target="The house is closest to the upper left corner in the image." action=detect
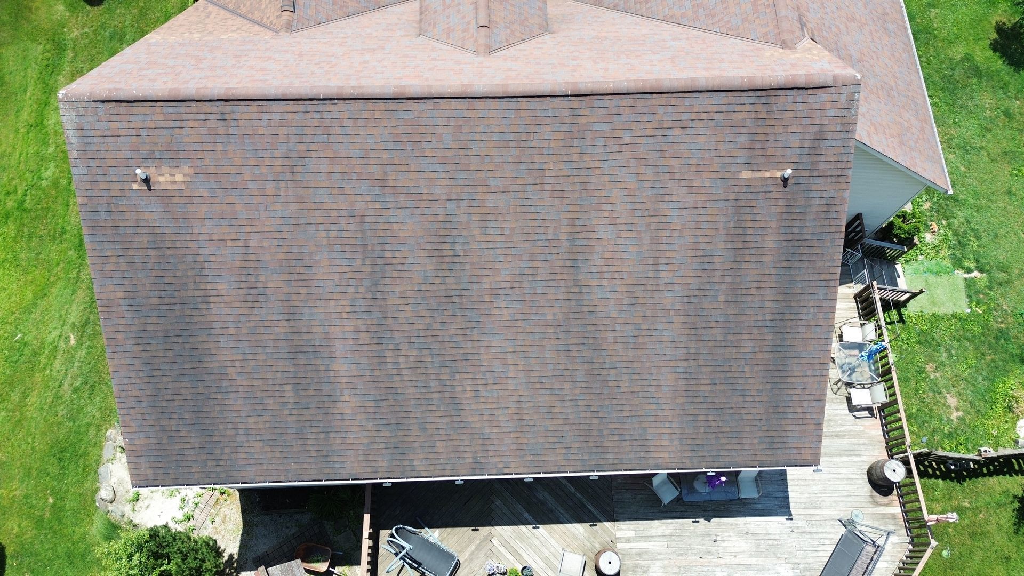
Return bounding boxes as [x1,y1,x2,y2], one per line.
[58,0,953,494]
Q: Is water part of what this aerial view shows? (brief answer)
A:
No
